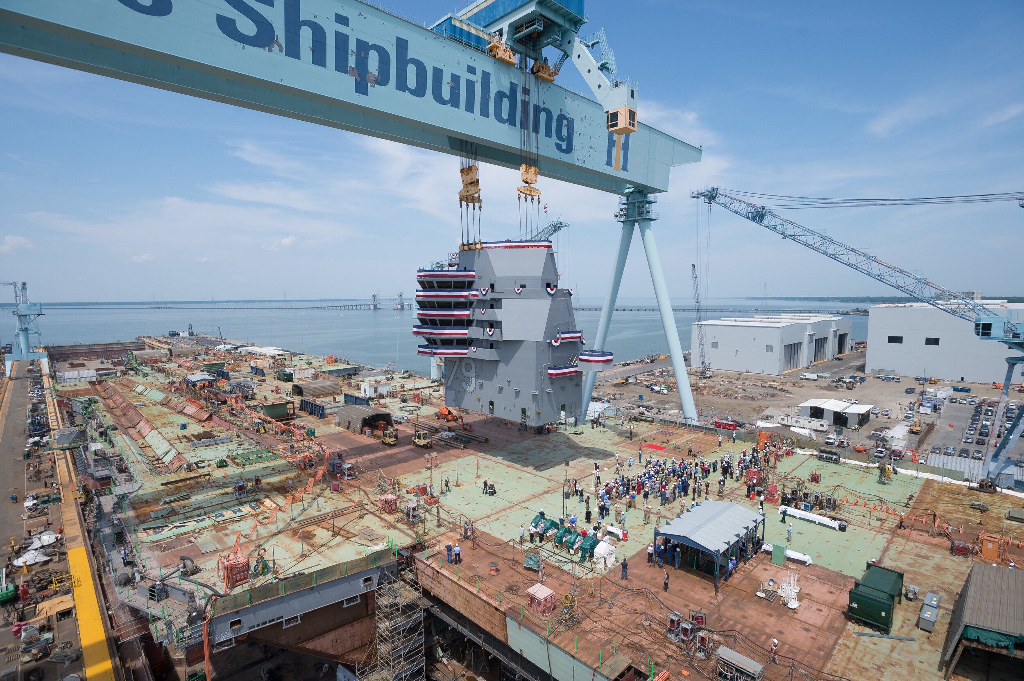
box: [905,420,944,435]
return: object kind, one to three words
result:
work vehicle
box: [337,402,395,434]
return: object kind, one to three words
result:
shed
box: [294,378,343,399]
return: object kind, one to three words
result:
shed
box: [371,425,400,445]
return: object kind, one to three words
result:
work vehicle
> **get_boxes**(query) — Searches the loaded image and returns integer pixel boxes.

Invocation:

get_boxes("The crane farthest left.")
[0,281,53,362]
